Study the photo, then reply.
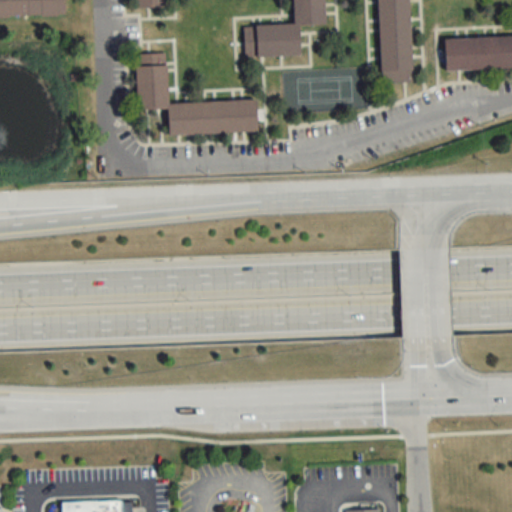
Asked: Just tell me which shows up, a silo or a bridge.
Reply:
bridge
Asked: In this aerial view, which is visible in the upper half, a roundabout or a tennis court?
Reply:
tennis court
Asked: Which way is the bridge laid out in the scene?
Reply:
up and down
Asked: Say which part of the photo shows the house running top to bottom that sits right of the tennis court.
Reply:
top right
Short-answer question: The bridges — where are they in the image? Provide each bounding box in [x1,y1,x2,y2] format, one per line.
[400,246,453,340]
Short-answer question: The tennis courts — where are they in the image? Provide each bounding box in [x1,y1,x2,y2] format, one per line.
[283,68,368,113]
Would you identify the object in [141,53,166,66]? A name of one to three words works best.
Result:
house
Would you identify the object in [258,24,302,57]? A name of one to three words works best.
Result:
house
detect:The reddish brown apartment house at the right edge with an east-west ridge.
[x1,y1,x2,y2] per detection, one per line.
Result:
[445,36,512,70]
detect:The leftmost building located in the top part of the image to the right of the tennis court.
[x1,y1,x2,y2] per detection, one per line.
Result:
[380,0,414,82]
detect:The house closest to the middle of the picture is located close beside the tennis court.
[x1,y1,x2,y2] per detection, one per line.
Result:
[170,100,258,135]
